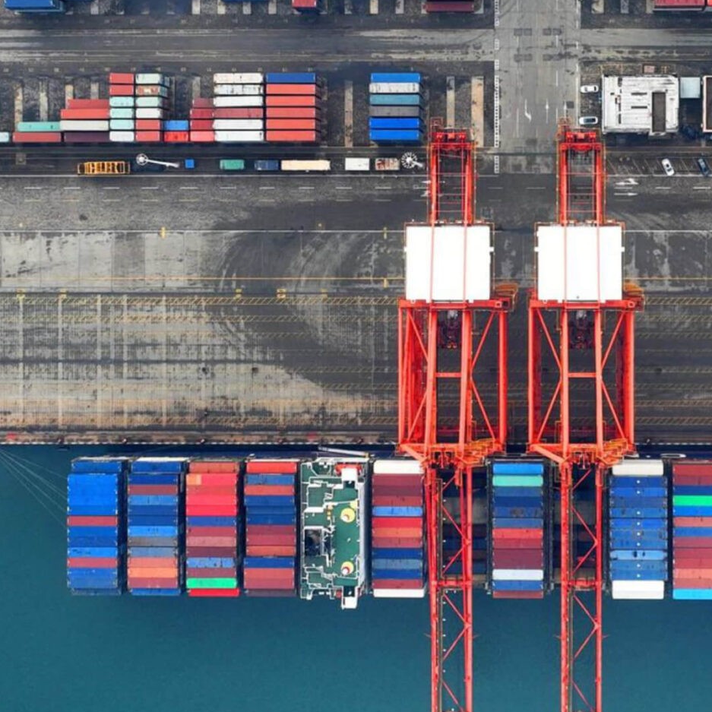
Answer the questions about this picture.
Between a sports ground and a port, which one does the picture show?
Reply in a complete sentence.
This looks like a port.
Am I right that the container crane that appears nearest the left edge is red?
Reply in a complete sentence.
Yes, the container crane that appears nearest the left edge is red.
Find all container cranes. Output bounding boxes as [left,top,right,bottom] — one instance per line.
[393,115,528,712]
[515,115,651,712]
